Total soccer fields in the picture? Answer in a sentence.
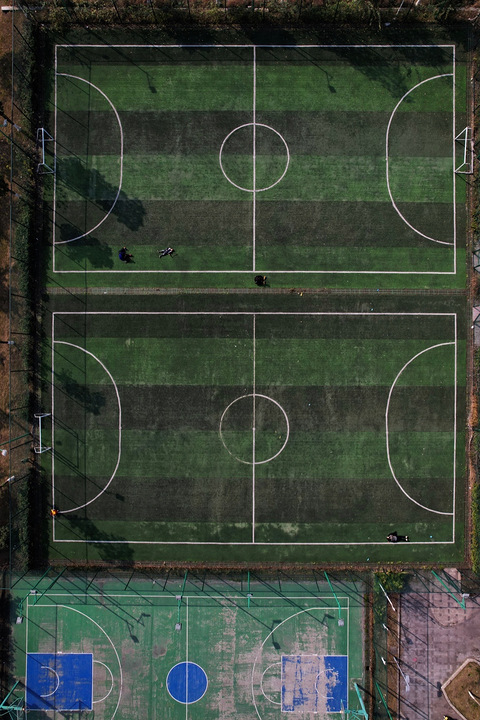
There are 2 soccer fields in the image.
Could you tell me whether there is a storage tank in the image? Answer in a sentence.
No, I find no storage tank anywhere in the image.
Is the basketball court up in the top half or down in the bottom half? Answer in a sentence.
Seen from above, the basketball court lies in the bottom half of the view.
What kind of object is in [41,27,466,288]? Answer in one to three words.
soccer field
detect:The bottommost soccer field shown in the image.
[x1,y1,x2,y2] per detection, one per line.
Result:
[41,294,466,561]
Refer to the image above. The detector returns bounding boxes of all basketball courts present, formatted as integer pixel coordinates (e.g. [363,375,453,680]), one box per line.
[9,577,364,720]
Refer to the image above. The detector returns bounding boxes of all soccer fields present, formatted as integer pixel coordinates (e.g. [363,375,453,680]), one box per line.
[41,294,466,561]
[41,27,466,288]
